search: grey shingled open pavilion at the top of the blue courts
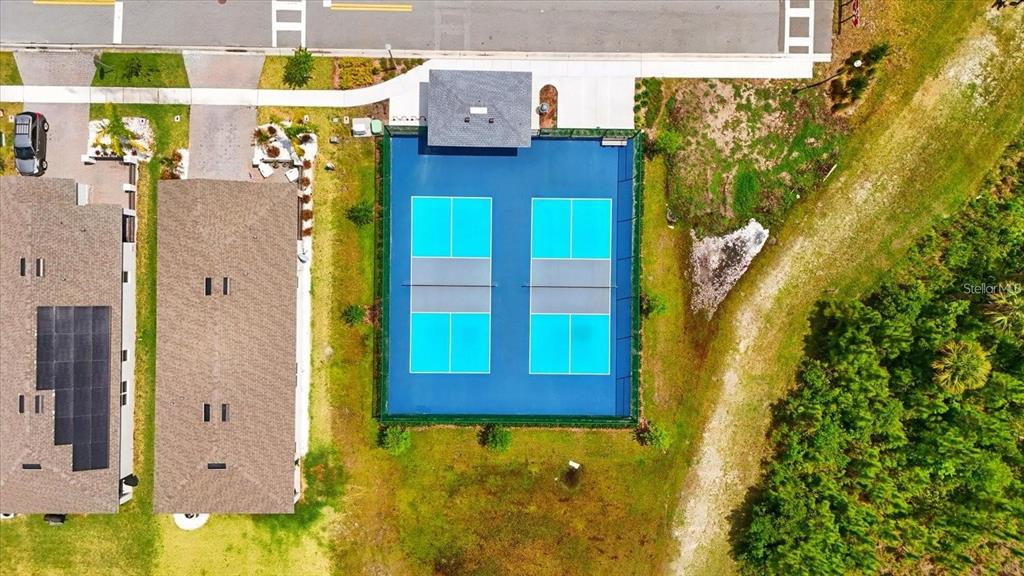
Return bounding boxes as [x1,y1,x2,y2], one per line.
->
[428,70,532,147]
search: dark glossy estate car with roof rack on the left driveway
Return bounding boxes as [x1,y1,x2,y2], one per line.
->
[12,112,49,176]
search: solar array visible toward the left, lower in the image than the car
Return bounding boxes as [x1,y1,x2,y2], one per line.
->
[37,306,111,470]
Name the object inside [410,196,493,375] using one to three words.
sports court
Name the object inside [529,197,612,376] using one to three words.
sports court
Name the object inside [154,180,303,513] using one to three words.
house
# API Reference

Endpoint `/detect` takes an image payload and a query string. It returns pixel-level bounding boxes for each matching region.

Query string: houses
[154,180,303,513]
[0,176,142,514]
